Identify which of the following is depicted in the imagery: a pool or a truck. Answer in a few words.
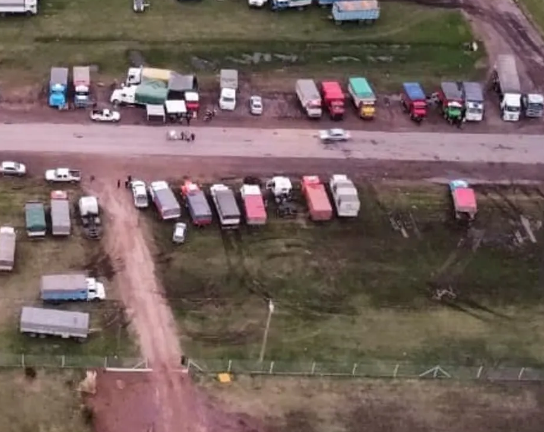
truck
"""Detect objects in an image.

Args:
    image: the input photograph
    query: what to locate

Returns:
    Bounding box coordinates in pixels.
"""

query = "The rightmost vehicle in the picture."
[522,96,544,118]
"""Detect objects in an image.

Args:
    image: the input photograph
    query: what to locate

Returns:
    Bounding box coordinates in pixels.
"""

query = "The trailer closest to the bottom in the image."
[21,309,101,342]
